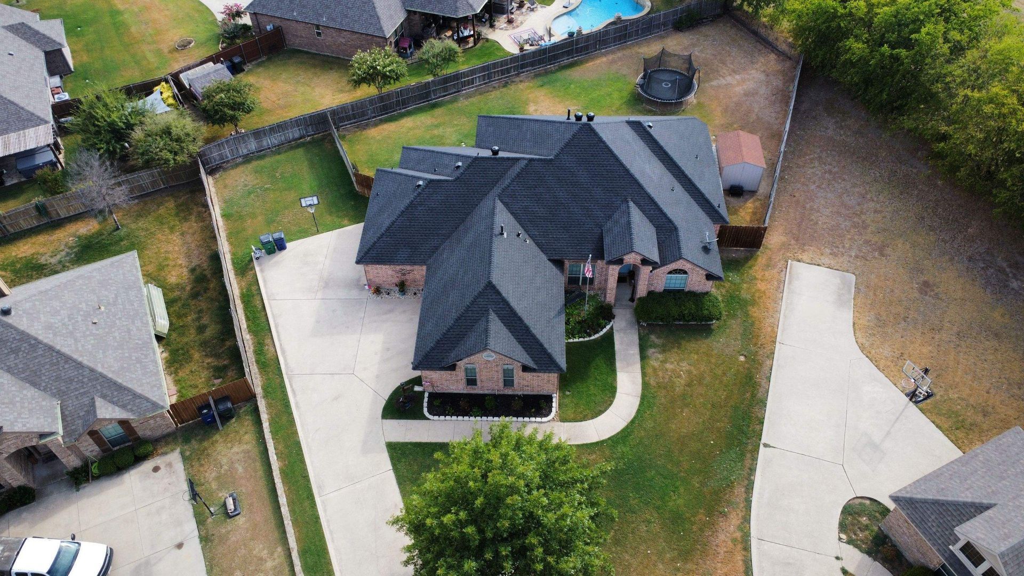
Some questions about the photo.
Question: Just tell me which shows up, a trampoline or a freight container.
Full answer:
There is a trampoline in the scene.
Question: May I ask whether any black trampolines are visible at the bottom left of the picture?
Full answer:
No, no black trampoline appears at the bottom left of the picture.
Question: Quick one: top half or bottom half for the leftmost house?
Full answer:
The top half of the photo is where the leftmost house is.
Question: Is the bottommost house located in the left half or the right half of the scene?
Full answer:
It is on the right.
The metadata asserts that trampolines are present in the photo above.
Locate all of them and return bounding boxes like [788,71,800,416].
[635,44,702,111]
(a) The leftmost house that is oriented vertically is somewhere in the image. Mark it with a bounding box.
[0,3,83,199]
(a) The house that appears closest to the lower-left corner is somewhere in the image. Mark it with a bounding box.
[0,246,175,486]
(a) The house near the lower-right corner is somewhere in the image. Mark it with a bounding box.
[877,430,1024,576]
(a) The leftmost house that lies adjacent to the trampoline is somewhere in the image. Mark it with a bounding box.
[354,110,728,411]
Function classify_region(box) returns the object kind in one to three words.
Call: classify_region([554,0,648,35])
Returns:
swimming pool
